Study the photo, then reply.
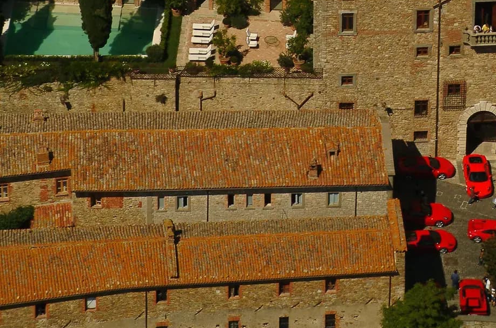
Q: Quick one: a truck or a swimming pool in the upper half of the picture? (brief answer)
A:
swimming pool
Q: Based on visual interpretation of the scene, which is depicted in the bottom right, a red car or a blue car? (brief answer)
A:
red car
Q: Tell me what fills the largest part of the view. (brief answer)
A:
buildings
